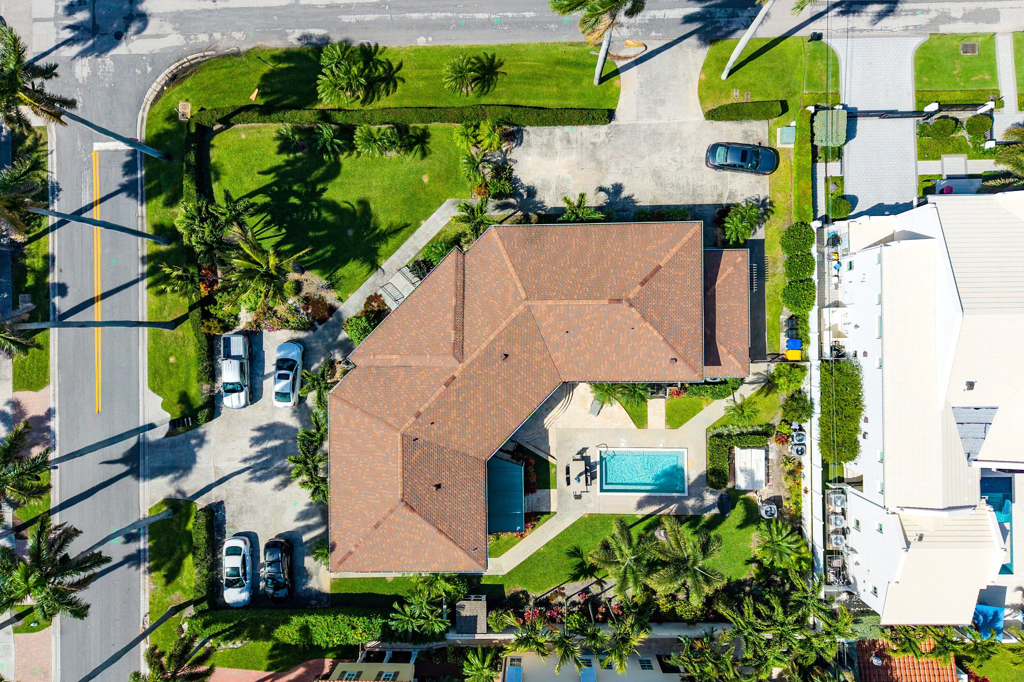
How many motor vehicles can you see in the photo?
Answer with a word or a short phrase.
5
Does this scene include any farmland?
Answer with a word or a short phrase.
No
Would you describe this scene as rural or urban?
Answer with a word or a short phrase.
urban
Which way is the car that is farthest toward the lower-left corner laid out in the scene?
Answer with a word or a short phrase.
vertically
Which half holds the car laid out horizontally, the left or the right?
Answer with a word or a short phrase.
right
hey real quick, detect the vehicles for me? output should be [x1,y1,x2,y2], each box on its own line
[216,333,254,409]
[219,536,255,607]
[704,141,779,176]
[260,536,293,603]
[271,342,305,408]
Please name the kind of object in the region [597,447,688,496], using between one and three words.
swimming pool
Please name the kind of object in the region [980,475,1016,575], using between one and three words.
swimming pool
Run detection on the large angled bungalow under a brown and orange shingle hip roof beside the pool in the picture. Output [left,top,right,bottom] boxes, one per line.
[326,219,752,575]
